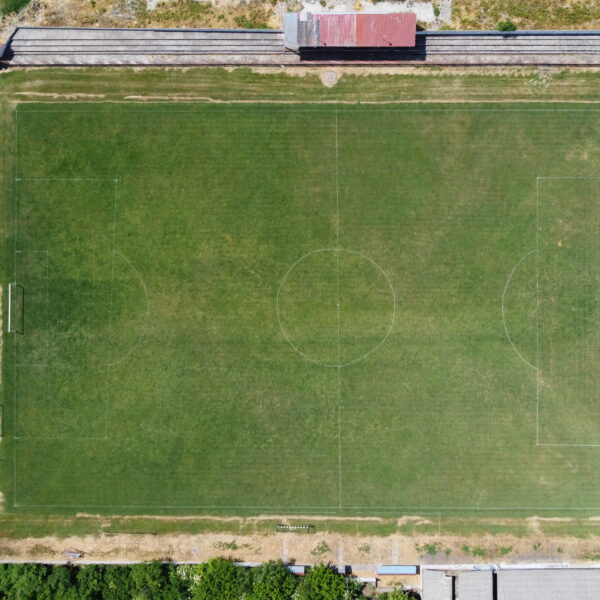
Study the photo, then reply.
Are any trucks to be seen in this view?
No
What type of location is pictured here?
sports ground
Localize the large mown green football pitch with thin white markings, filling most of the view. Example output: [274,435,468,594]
[13,103,600,534]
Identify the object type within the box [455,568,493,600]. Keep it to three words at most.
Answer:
shed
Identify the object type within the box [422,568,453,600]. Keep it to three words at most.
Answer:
shed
